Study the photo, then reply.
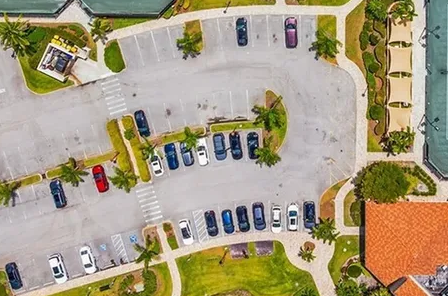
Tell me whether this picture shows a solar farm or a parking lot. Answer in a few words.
parking lot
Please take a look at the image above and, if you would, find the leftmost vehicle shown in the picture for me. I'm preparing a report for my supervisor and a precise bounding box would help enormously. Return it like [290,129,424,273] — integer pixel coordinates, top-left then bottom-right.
[5,260,24,291]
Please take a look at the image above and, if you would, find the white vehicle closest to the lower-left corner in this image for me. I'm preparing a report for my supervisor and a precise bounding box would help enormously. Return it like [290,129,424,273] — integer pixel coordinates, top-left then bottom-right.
[48,253,68,283]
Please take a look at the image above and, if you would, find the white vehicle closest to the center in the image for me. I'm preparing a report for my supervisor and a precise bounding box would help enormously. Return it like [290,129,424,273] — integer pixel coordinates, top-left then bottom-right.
[195,136,210,165]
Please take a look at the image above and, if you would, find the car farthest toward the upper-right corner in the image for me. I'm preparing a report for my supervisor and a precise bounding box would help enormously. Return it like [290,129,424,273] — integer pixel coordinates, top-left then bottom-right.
[285,18,298,47]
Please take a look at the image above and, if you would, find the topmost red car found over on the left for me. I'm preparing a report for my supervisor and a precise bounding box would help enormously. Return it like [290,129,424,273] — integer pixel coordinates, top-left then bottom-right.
[93,163,109,192]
